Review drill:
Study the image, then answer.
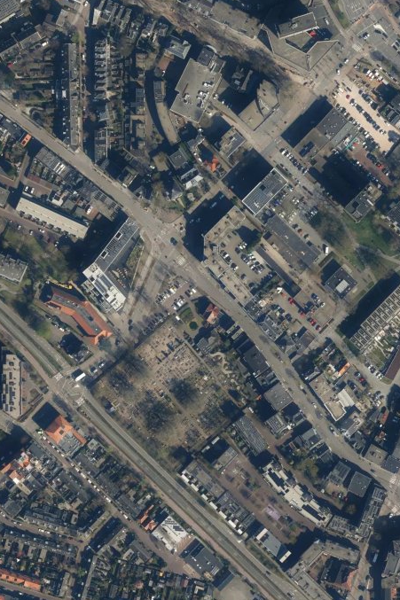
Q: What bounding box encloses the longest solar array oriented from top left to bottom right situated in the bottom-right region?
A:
[269,464,328,526]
